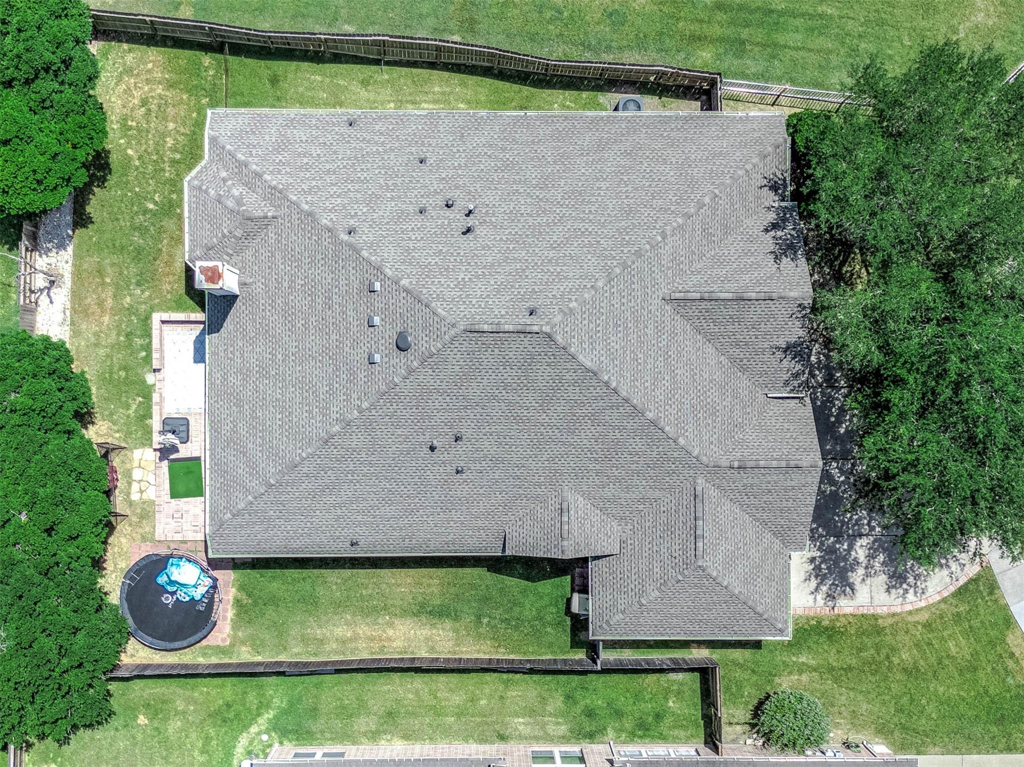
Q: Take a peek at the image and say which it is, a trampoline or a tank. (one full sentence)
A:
Looking from above, you can make out a trampoline.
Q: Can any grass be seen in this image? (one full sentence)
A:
Yes, some grass is visible.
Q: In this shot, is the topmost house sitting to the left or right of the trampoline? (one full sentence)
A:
Looking at the picture, you'll find the topmost house to the right of the trampoline.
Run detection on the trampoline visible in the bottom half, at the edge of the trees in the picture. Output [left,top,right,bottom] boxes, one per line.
[120,549,223,651]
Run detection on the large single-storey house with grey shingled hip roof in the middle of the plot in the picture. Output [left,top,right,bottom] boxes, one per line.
[182,109,820,642]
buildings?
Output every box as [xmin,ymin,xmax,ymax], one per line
[182,109,820,642]
[253,736,918,767]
